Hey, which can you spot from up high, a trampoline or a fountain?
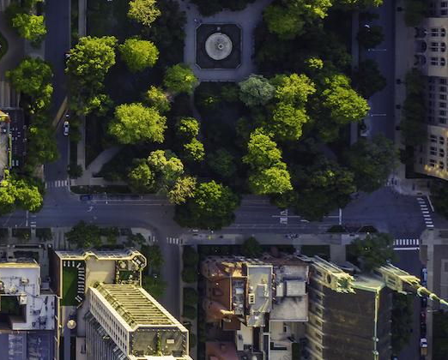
fountain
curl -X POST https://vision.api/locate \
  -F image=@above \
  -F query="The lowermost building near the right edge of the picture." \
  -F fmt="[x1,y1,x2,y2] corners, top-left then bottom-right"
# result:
[273,242,448,360]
